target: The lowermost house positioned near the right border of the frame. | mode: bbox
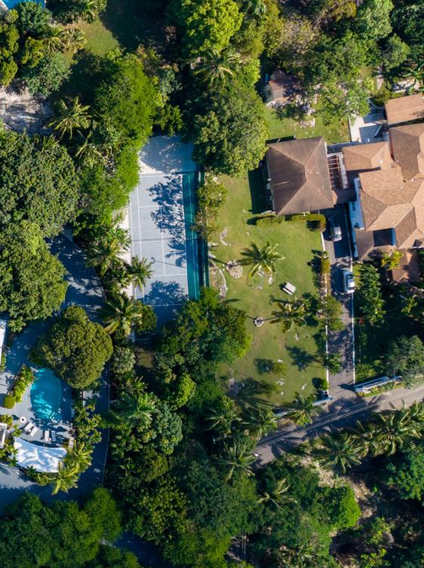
[334,126,424,282]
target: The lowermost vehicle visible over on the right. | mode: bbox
[343,267,360,295]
